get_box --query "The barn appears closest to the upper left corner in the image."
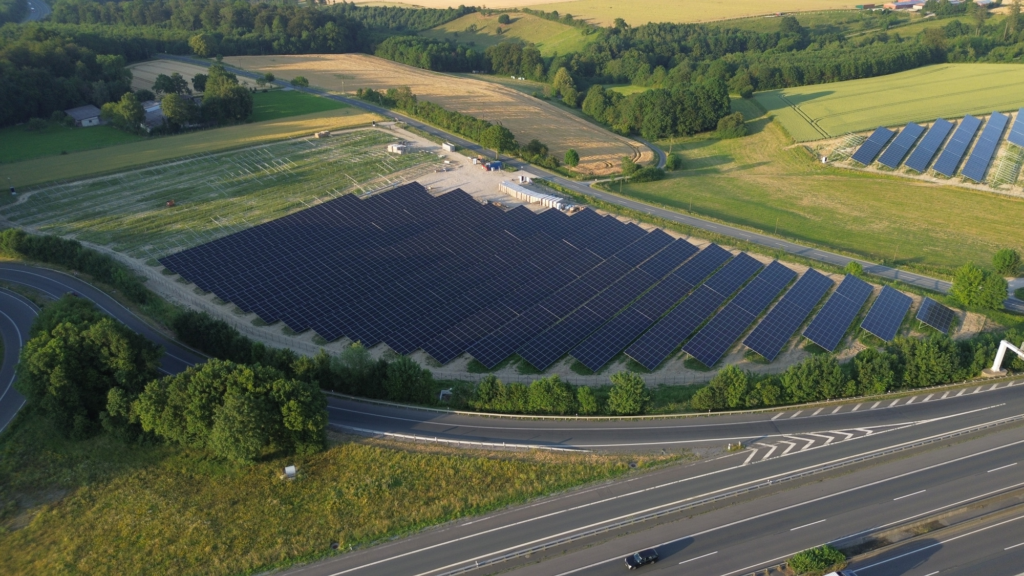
[63,107,105,128]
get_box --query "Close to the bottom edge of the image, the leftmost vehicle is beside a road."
[625,551,660,572]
